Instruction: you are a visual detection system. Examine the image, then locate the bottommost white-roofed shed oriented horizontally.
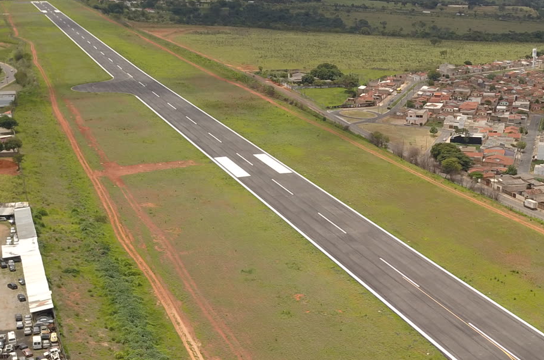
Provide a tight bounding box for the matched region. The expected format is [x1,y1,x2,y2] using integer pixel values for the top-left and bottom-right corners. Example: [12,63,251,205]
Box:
[1,237,39,259]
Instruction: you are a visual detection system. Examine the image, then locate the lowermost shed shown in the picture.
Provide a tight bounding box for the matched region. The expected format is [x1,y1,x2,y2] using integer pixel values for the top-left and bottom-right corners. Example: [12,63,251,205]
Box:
[21,255,54,320]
